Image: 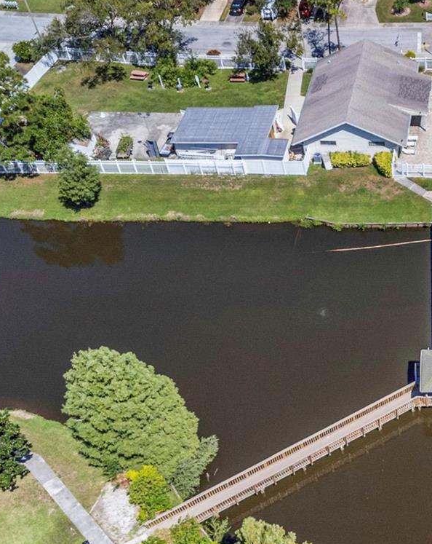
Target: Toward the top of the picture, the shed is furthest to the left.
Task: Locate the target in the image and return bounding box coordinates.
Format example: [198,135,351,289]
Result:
[169,105,289,162]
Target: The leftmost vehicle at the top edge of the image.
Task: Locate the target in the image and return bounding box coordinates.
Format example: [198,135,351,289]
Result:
[227,0,247,15]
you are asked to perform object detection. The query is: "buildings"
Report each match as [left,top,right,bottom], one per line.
[169,105,289,162]
[291,41,432,164]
